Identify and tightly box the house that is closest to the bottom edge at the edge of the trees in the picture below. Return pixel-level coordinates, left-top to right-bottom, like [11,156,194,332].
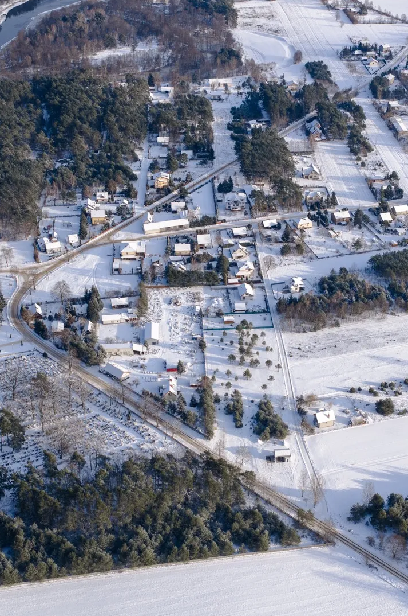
[258,444,292,464]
